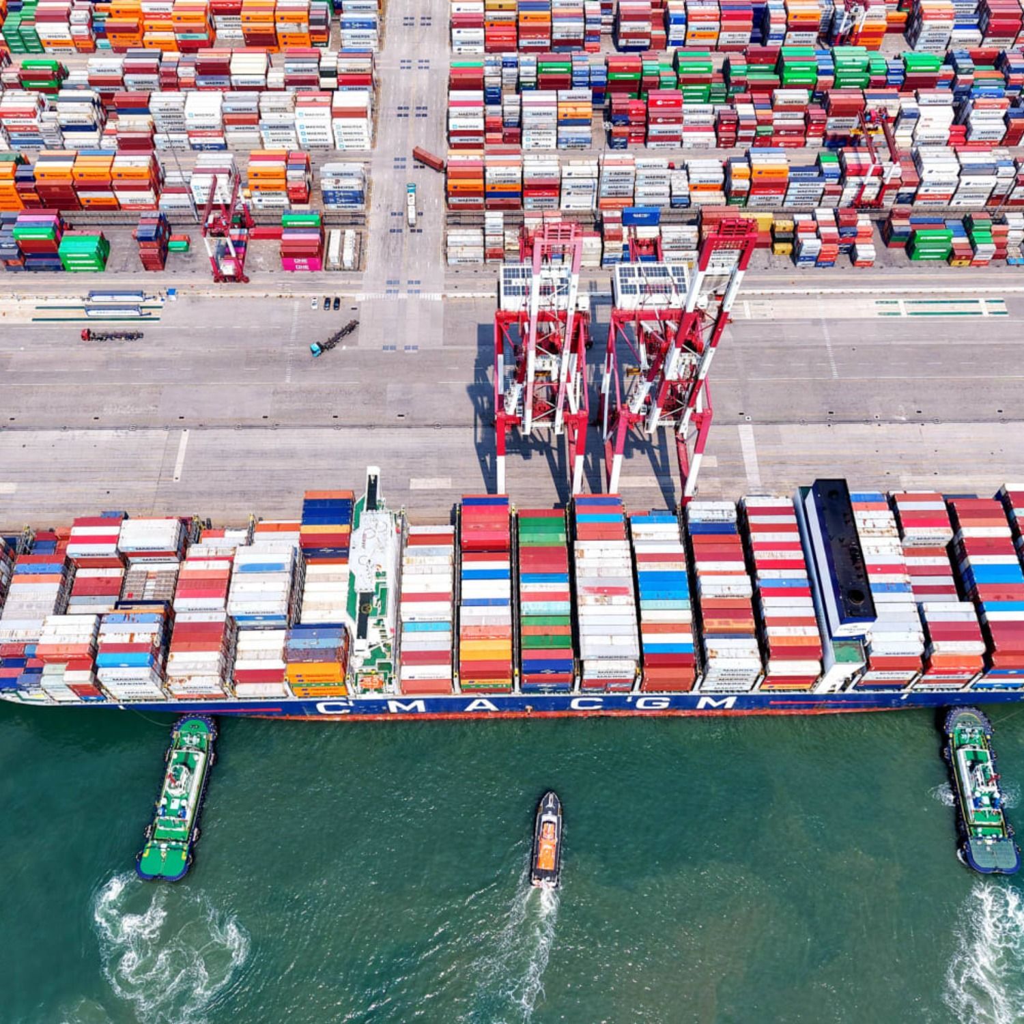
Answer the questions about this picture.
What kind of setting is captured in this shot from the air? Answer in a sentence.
This image shows a port.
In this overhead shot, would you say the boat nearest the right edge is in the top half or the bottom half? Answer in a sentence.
The boat nearest the right edge is in the bottom half of the image.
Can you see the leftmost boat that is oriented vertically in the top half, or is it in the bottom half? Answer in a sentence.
The bottom half of the photo is where the leftmost boat that is oriented vertically is.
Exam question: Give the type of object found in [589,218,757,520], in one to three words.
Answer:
container crane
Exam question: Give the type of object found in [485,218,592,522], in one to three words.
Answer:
container crane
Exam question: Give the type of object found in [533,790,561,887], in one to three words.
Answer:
boat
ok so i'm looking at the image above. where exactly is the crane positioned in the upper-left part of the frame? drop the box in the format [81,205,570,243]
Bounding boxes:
[199,168,255,278]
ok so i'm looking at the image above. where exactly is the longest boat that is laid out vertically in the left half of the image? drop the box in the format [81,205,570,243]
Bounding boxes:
[138,715,219,880]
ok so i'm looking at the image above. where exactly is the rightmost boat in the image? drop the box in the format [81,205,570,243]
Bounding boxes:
[937,702,1024,866]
